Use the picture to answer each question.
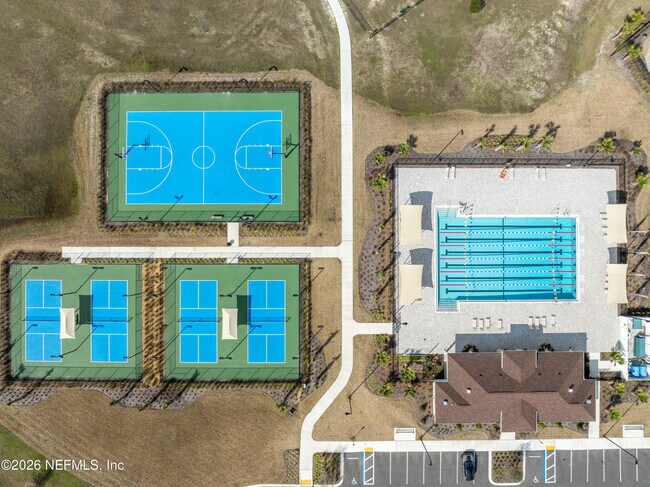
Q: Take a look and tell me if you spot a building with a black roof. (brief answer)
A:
No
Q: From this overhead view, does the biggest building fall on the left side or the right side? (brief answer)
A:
right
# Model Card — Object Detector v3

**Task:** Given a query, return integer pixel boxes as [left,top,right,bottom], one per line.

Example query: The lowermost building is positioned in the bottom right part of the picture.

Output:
[432,347,597,432]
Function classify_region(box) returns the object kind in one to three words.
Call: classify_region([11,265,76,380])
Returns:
sports court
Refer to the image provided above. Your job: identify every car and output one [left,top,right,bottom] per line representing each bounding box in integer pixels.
[463,449,478,481]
